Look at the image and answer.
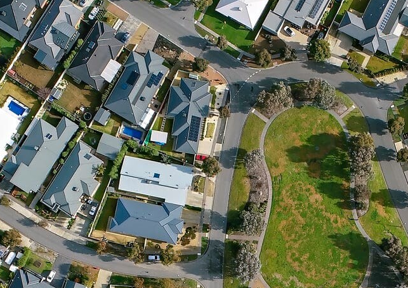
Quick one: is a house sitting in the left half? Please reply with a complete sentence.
Yes, a house is visible in the left half.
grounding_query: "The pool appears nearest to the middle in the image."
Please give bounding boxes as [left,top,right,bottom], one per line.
[119,125,144,142]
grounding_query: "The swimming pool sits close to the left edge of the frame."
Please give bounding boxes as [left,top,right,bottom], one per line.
[4,102,26,118]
